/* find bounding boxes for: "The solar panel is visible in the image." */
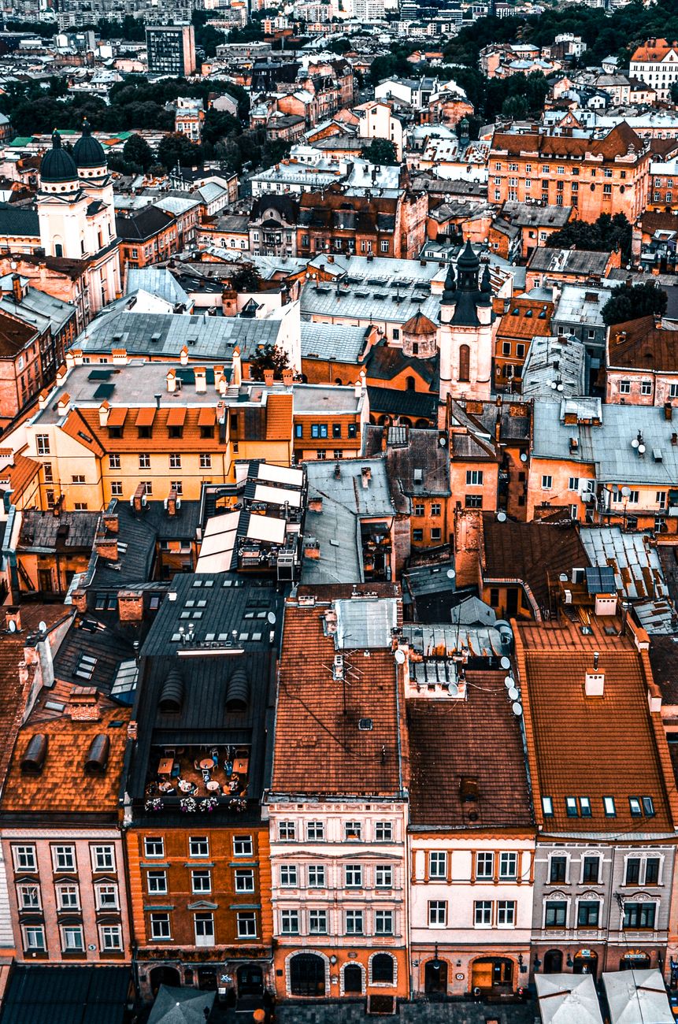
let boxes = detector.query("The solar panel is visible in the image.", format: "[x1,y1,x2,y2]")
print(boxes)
[583,568,617,622]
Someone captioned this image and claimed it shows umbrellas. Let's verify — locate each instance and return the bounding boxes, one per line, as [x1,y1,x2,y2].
[603,970,675,1024]
[535,974,603,1024]
[146,985,216,1024]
